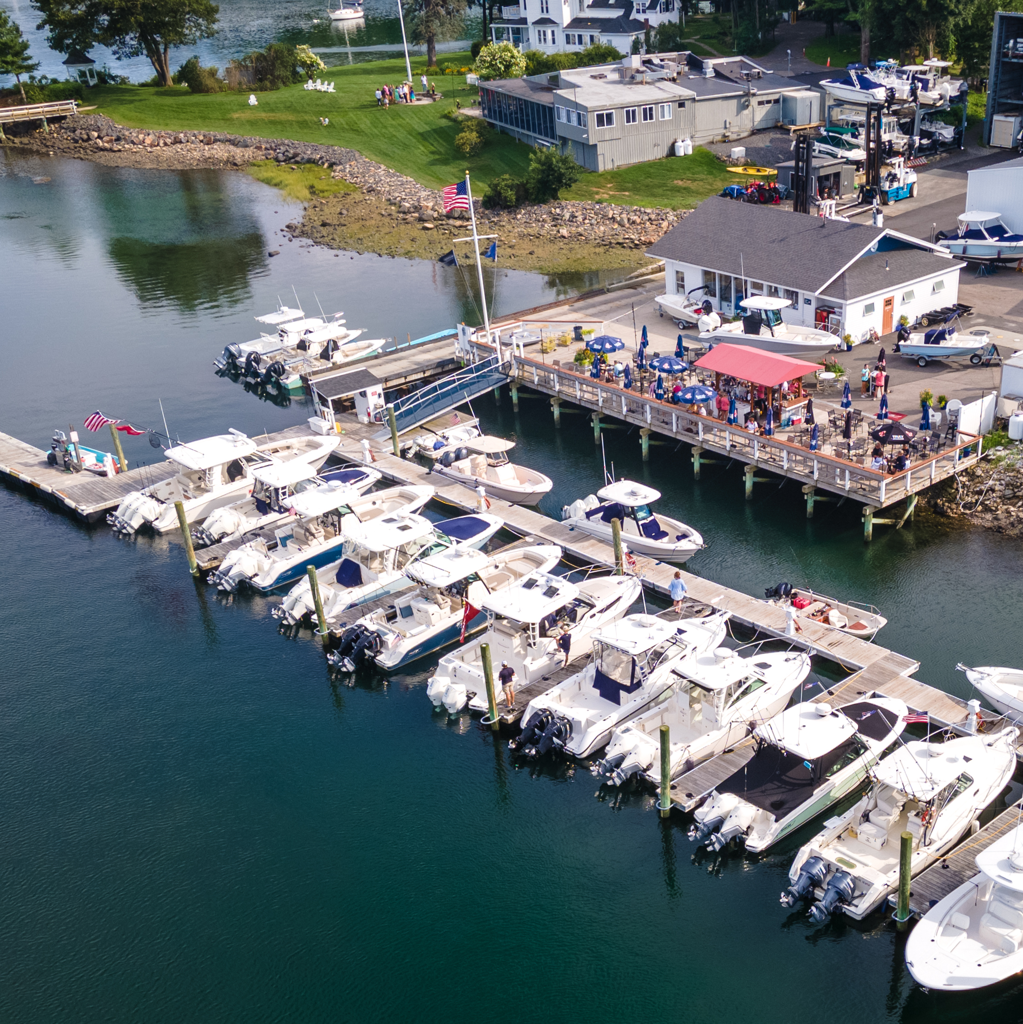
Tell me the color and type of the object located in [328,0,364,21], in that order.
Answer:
white boat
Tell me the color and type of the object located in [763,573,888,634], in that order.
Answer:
white boat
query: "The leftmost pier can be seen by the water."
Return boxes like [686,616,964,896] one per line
[0,429,100,502]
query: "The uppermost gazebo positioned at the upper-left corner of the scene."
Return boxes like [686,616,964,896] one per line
[56,39,93,85]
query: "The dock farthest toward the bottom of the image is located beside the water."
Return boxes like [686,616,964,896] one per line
[875,841,973,940]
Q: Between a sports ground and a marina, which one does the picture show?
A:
marina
